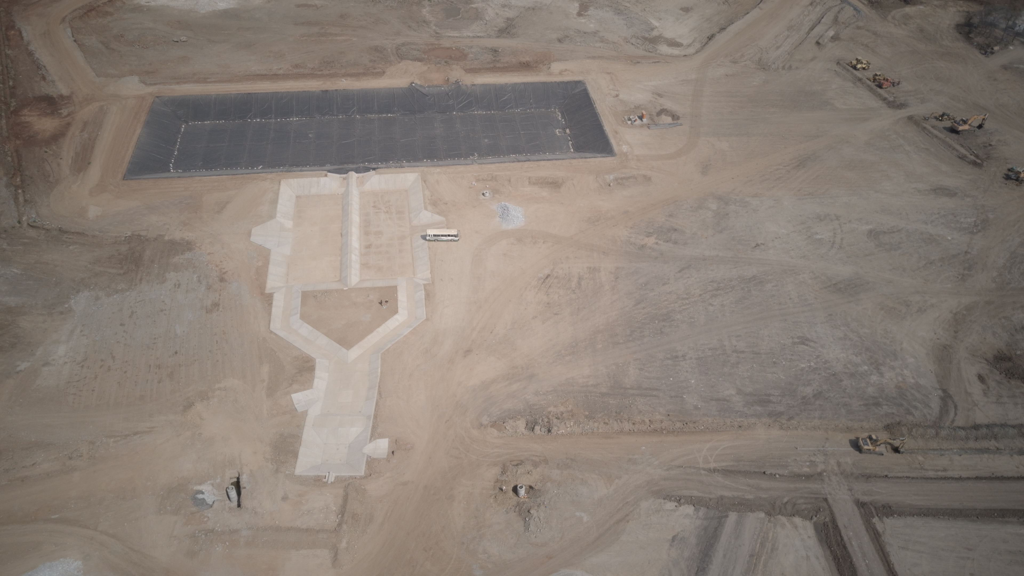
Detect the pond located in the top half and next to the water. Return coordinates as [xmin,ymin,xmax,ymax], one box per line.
[125,81,615,179]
